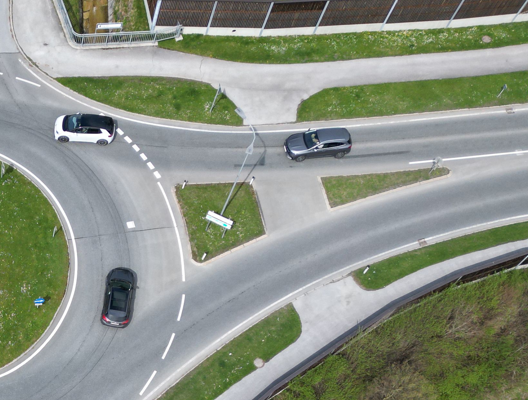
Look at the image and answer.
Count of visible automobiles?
3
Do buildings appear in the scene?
No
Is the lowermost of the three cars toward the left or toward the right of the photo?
left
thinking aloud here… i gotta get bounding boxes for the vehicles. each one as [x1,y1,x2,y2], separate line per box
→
[54,113,114,146]
[285,126,358,162]
[101,264,139,328]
